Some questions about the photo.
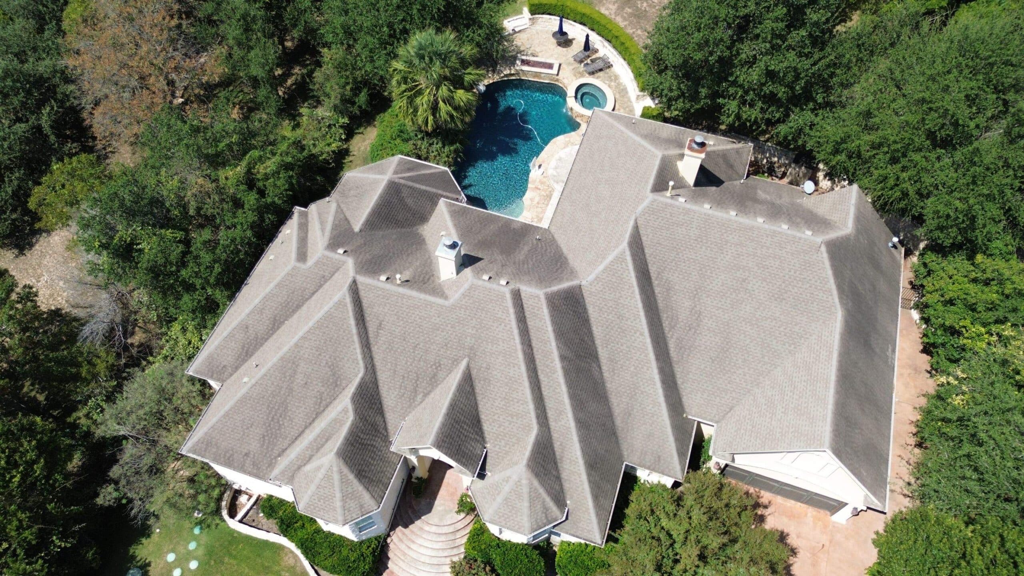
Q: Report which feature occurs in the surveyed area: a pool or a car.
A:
pool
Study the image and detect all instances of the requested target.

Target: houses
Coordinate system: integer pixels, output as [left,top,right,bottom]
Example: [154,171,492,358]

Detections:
[179,106,906,553]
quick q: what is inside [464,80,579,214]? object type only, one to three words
swimming pool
